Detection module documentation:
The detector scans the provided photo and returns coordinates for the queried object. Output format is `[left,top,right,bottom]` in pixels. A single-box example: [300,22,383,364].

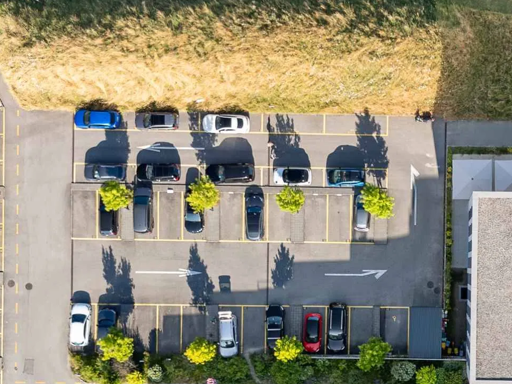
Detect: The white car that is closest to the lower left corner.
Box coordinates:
[69,302,93,348]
